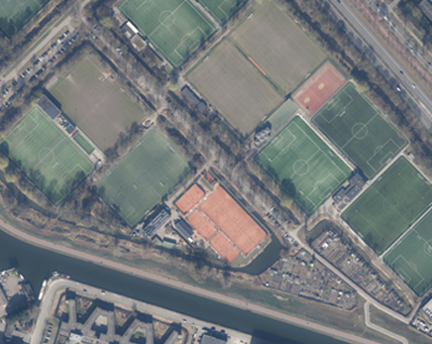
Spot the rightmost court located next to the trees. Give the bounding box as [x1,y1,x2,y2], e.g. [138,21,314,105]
[293,62,346,115]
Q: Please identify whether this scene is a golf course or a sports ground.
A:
sports ground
